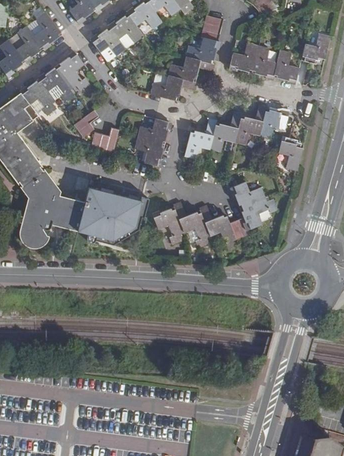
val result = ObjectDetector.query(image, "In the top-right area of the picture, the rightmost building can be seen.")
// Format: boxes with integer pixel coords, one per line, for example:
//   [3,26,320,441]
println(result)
[302,34,330,64]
